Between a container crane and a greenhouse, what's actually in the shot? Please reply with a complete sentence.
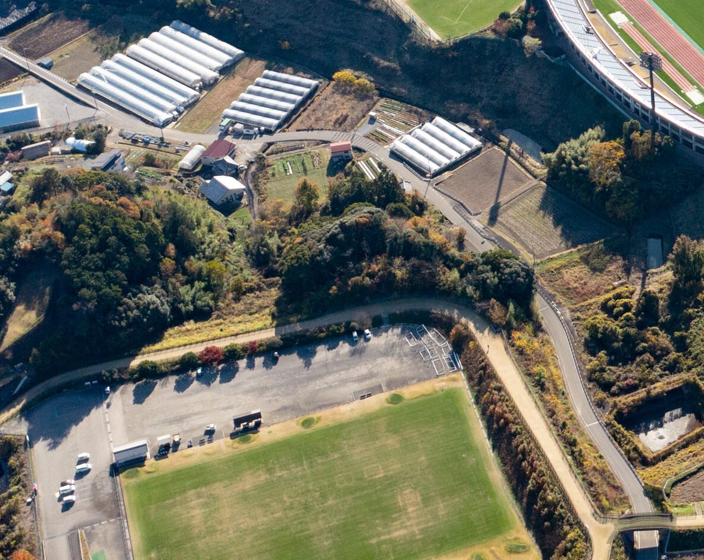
It is a greenhouse that can be seen here.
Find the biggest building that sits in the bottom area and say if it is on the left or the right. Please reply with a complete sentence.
The biggest building that sits in the bottom area is on the left side of the image.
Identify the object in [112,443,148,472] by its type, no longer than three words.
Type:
building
